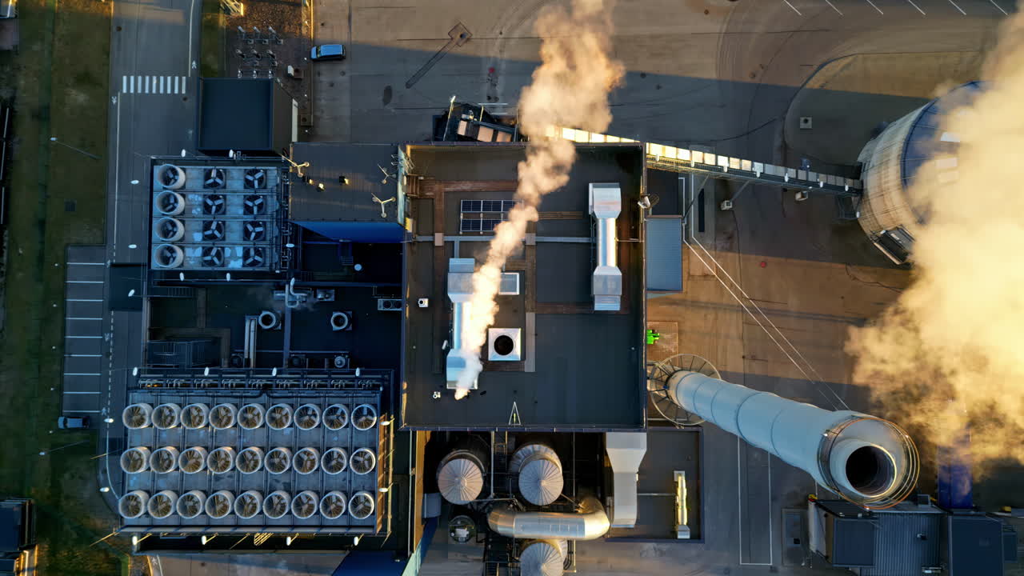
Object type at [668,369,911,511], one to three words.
chimney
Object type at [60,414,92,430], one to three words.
car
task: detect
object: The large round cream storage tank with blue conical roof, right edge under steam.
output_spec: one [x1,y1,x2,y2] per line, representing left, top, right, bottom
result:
[858,78,1024,255]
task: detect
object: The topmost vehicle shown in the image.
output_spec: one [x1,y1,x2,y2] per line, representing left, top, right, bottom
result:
[313,44,347,62]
